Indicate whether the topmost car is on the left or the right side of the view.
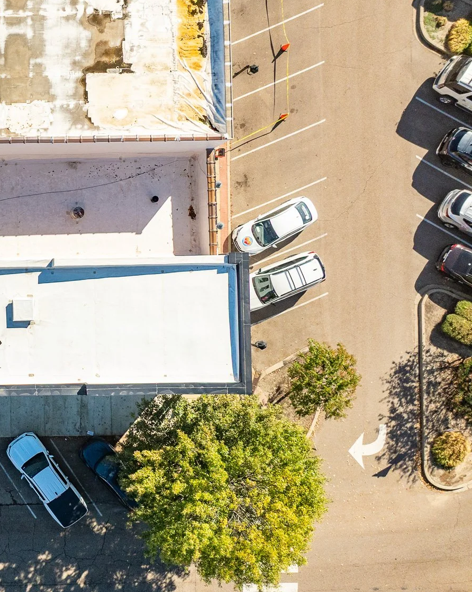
right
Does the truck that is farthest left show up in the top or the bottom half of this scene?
bottom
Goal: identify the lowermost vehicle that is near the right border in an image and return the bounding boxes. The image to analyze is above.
[430,244,472,299]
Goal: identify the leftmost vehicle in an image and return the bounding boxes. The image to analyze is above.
[7,430,90,531]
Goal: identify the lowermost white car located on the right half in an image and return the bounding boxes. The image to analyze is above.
[250,250,328,310]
